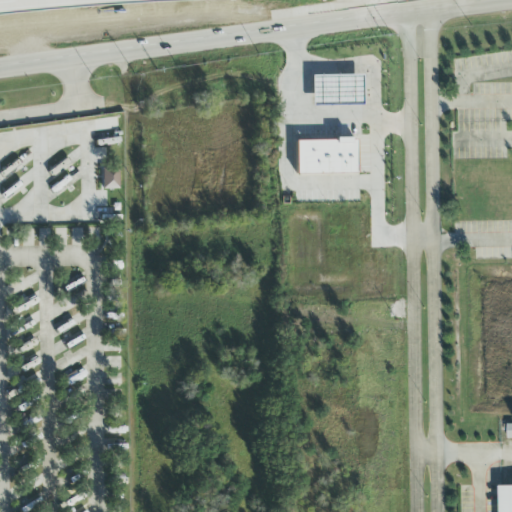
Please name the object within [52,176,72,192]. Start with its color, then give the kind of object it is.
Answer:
white camper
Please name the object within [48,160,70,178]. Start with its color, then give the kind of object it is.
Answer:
white camper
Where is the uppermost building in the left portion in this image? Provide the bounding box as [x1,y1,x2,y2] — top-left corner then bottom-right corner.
[104,168,121,190]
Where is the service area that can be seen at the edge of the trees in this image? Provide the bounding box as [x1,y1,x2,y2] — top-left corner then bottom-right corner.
[262,35,410,250]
